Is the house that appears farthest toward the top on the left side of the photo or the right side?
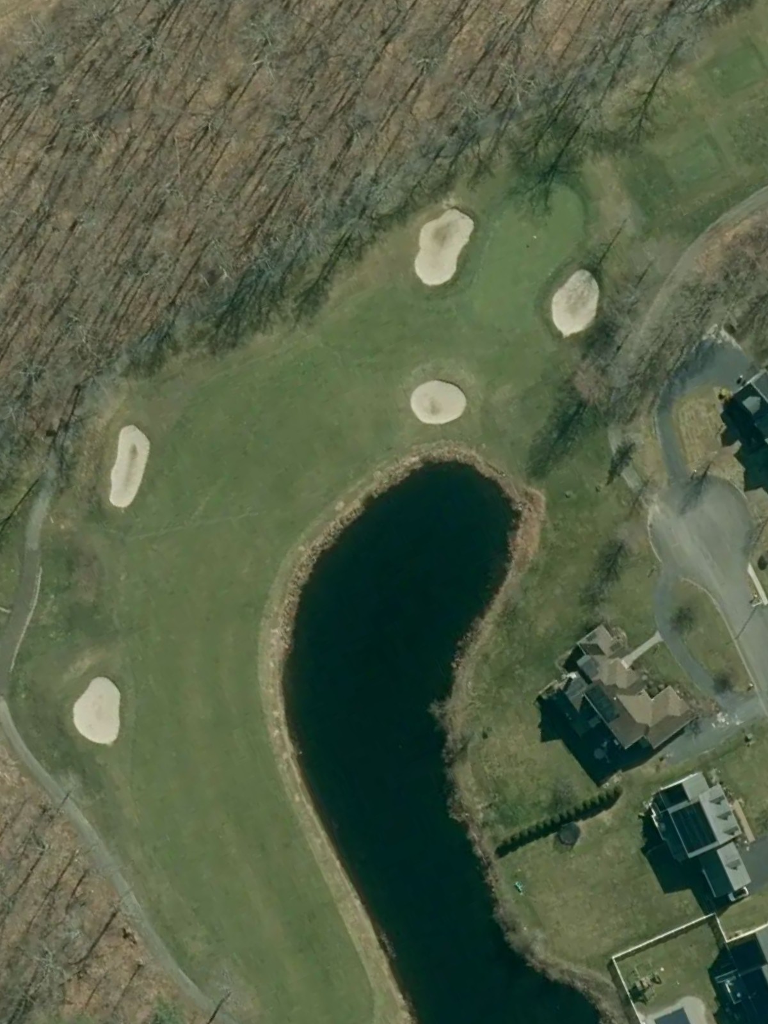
right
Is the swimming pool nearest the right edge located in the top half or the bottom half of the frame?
bottom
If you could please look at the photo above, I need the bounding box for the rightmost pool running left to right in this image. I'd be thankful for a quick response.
[634,995,707,1024]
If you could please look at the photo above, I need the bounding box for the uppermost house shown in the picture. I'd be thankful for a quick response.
[734,368,768,442]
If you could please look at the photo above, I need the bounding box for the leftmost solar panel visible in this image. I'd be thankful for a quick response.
[589,683,627,723]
